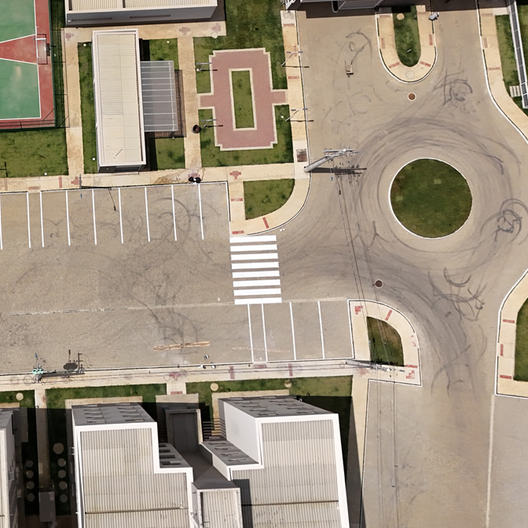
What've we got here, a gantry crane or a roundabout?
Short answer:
roundabout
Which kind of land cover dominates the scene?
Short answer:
paved ground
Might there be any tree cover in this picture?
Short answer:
No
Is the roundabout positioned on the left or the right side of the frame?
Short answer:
right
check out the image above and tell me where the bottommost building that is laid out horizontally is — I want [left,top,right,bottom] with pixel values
[61,389,349,528]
